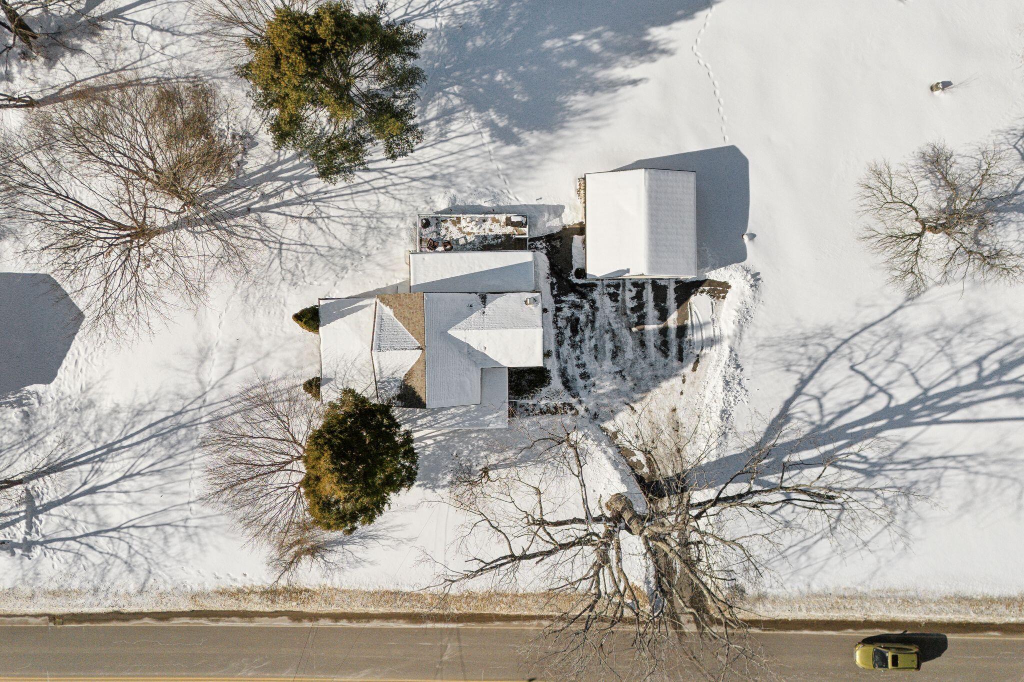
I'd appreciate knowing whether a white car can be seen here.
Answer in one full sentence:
No, I find no white car anywhere in the image.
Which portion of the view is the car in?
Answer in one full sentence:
You can find the car in the bottom right area of the picture.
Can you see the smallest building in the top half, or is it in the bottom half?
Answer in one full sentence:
You can find the smallest building in the top half.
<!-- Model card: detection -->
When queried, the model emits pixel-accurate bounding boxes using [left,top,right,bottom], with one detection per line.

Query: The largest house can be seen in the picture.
[320,251,547,431]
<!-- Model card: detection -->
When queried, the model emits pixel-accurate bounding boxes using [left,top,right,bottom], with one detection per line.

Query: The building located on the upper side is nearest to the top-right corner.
[583,167,697,280]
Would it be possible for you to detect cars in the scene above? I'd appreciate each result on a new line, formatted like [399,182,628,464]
[852,639,919,674]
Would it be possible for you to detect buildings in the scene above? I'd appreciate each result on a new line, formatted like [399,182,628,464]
[320,251,547,431]
[583,167,697,280]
